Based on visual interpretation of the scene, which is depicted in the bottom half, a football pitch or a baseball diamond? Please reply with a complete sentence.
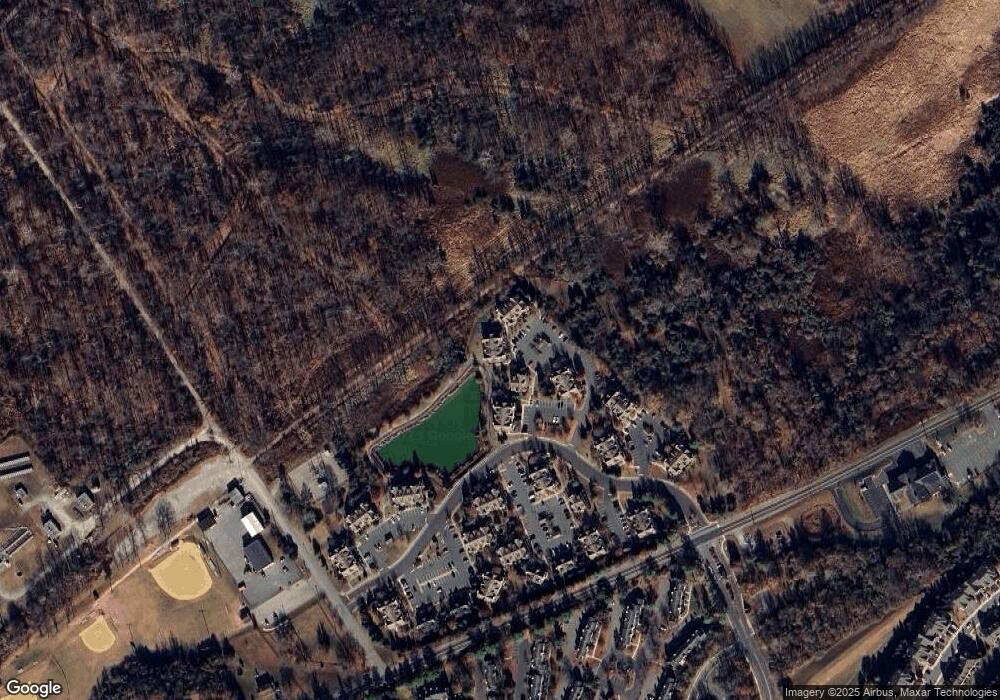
The one visible in the bottom half is a baseball diamond.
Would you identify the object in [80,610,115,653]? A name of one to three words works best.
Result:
baseball field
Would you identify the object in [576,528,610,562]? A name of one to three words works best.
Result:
building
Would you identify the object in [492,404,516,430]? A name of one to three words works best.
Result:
building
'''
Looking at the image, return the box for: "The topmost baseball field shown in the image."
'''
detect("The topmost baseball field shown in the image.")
[149,531,212,600]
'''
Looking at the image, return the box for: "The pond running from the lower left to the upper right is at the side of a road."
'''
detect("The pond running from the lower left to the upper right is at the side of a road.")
[378,377,480,471]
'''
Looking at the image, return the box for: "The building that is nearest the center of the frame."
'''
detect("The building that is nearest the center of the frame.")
[480,335,505,363]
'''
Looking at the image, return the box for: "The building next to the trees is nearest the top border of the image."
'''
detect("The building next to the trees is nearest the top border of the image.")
[495,296,533,332]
